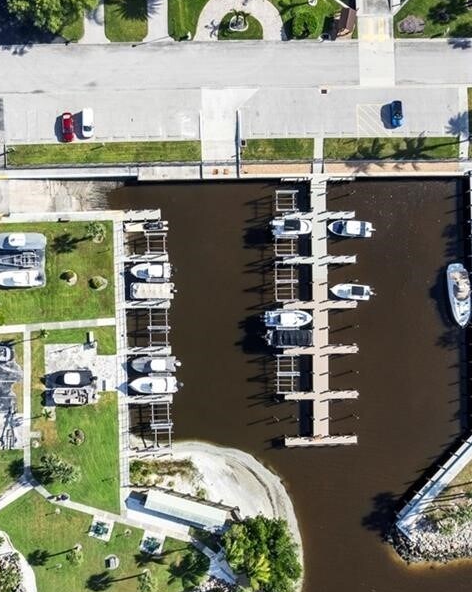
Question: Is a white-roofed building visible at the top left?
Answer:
No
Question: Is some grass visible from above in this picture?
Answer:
Yes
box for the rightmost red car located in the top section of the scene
[60,113,75,142]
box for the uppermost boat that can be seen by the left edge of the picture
[0,233,47,249]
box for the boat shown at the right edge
[448,258,472,328]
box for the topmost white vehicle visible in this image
[80,107,95,137]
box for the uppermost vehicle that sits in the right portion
[388,100,404,129]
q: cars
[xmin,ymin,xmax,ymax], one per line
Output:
[388,100,404,129]
[80,107,95,137]
[60,113,75,142]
